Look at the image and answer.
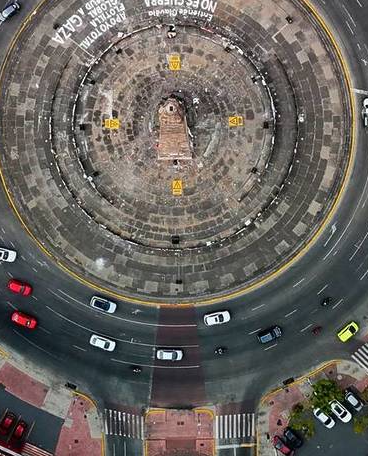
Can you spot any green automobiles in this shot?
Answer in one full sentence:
Yes, a green automobile is visible in the scene.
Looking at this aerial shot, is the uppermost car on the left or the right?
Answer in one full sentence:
You can find the uppermost car on the left side of the picture.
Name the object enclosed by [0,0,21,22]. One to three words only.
car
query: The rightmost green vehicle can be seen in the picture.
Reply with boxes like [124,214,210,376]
[337,323,360,343]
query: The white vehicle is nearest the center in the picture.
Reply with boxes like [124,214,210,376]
[203,311,231,326]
